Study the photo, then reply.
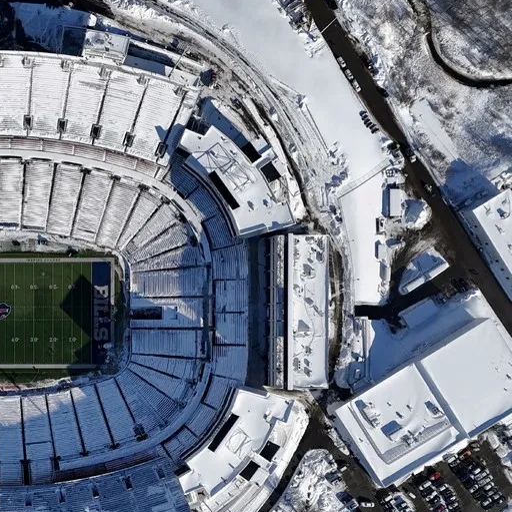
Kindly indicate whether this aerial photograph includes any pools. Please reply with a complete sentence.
No, no pool is visible in the scene.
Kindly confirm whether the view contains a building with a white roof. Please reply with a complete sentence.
Yes, a building with a white roof is visible in the scene.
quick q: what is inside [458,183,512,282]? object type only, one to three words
building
